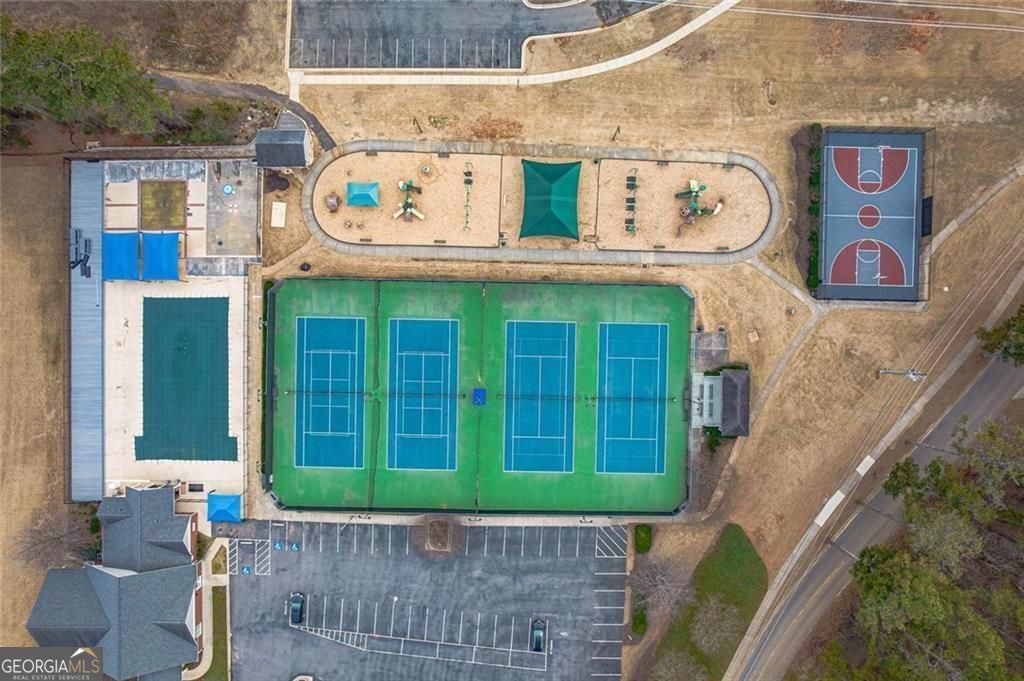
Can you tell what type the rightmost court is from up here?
basketball court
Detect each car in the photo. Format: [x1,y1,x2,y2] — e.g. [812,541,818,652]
[532,619,546,651]
[289,591,305,623]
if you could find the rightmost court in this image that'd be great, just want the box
[816,131,923,301]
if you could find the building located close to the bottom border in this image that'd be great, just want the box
[26,485,201,681]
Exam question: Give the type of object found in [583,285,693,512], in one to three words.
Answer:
tennis court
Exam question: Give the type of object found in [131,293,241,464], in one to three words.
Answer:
swimming pool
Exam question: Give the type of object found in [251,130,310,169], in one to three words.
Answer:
building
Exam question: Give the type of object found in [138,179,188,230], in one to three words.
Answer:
swimming pool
